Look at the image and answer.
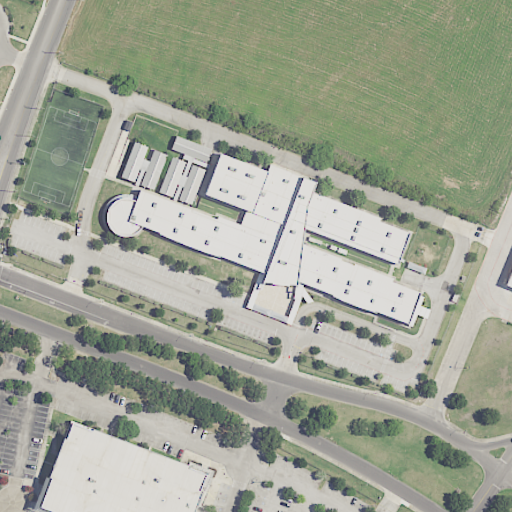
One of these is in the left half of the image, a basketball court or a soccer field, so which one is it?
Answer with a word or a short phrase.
soccer field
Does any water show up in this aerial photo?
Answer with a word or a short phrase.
No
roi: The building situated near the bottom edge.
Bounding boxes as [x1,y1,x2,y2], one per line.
[34,420,214,512]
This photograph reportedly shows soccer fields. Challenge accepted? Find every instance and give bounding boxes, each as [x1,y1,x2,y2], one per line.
[20,90,102,212]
